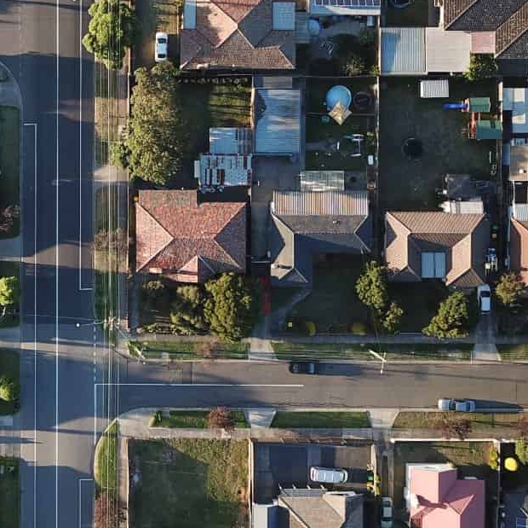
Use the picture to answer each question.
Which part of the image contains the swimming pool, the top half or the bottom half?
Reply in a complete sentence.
The swimming pool is in the top half of the image.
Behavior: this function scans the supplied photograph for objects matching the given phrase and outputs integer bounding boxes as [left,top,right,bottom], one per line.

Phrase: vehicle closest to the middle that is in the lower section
[286,359,317,375]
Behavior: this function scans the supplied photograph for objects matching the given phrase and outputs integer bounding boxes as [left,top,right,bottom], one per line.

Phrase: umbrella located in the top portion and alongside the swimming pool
[327,101,350,125]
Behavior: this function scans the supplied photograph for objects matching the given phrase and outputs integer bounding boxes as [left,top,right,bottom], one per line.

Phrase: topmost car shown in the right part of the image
[475,289,492,315]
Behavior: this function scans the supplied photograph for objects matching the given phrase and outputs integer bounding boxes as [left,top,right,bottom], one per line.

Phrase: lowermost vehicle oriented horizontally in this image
[309,466,348,484]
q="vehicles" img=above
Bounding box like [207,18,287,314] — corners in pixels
[286,359,317,375]
[437,395,474,413]
[153,31,171,63]
[475,289,492,315]
[309,466,348,484]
